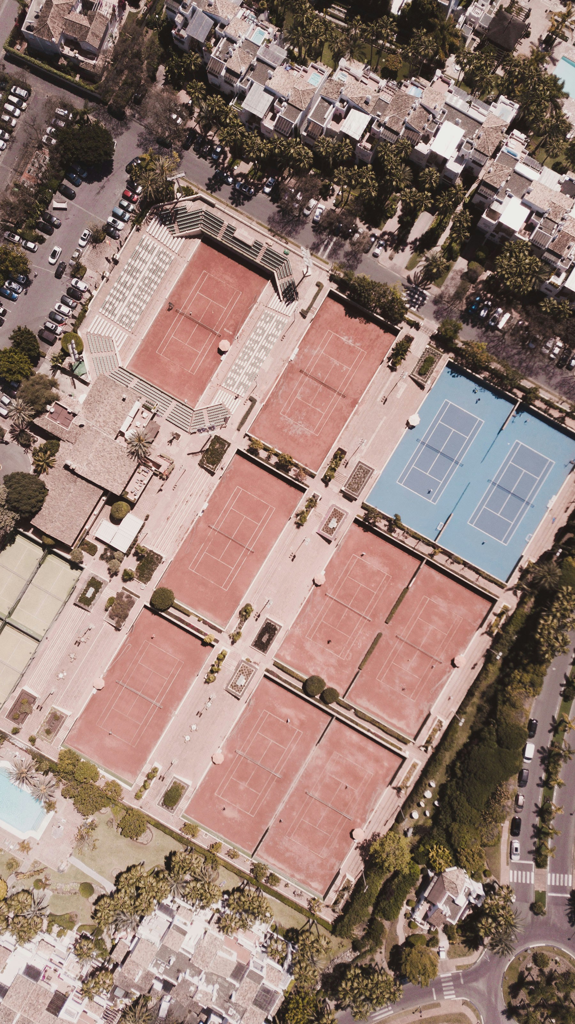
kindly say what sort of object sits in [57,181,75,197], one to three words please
car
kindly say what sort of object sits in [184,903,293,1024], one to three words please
house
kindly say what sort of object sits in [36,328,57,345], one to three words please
vehicle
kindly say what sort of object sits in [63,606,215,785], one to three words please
tennis court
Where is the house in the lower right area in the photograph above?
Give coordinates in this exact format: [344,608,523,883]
[410,853,486,930]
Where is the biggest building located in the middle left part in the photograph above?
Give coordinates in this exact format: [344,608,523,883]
[29,371,142,548]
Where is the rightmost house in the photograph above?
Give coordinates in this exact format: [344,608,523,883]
[520,169,575,300]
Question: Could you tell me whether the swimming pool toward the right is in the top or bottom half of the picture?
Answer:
top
